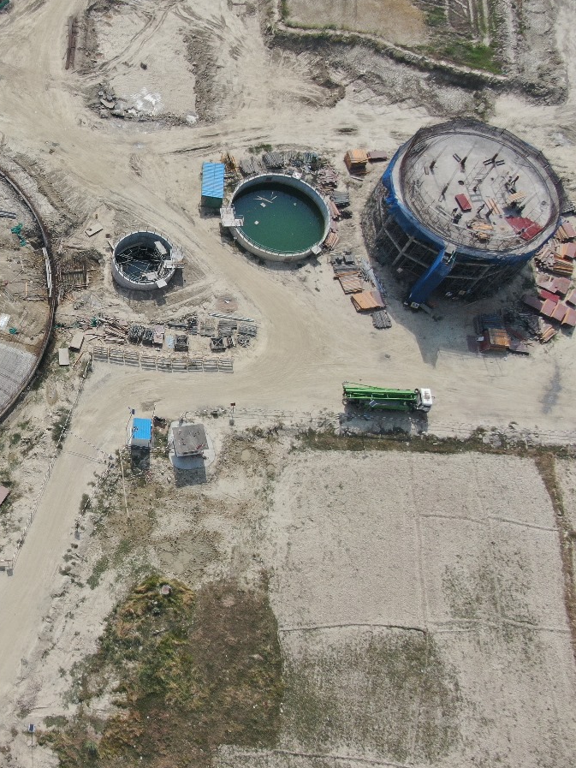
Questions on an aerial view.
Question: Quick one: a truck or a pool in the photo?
truck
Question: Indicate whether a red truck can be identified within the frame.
No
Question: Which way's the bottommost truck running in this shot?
from left to right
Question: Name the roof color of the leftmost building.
blue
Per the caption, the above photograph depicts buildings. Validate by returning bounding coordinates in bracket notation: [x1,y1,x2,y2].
[199,161,225,210]
[130,418,152,447]
[169,420,214,468]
